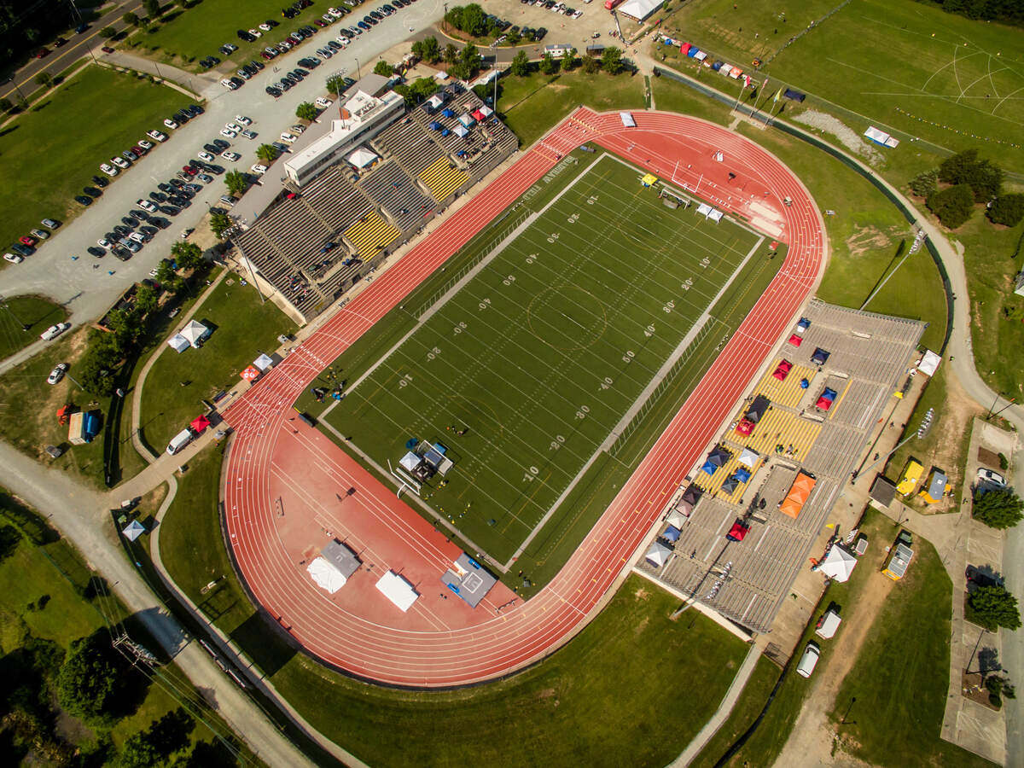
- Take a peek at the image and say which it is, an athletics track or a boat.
athletics track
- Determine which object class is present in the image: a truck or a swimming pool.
truck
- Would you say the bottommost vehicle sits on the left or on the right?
right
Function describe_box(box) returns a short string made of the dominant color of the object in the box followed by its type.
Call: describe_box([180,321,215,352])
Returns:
white tent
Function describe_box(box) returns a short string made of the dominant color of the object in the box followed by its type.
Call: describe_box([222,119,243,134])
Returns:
white vehicle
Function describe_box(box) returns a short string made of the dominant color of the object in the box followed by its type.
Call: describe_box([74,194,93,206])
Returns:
black vehicle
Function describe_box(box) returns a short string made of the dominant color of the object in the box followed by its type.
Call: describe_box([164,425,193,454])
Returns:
white van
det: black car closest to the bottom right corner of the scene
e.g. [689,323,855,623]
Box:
[969,567,999,585]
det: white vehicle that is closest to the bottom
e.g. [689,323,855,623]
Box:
[795,641,822,678]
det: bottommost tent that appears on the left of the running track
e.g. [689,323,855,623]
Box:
[119,517,155,547]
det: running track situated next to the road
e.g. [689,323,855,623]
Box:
[222,112,823,688]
